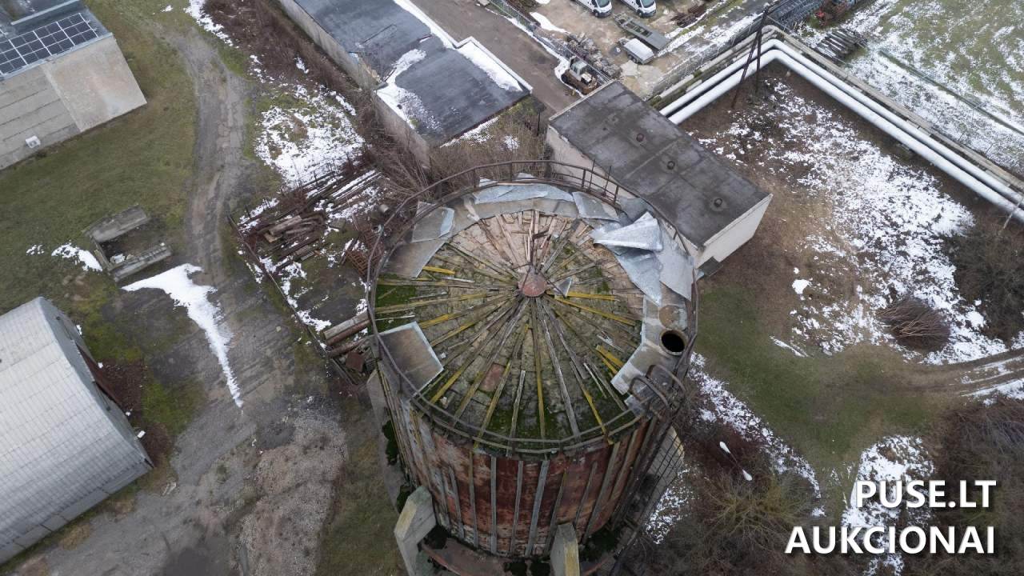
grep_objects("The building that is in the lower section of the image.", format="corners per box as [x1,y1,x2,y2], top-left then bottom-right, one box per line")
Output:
[0,302,153,573]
